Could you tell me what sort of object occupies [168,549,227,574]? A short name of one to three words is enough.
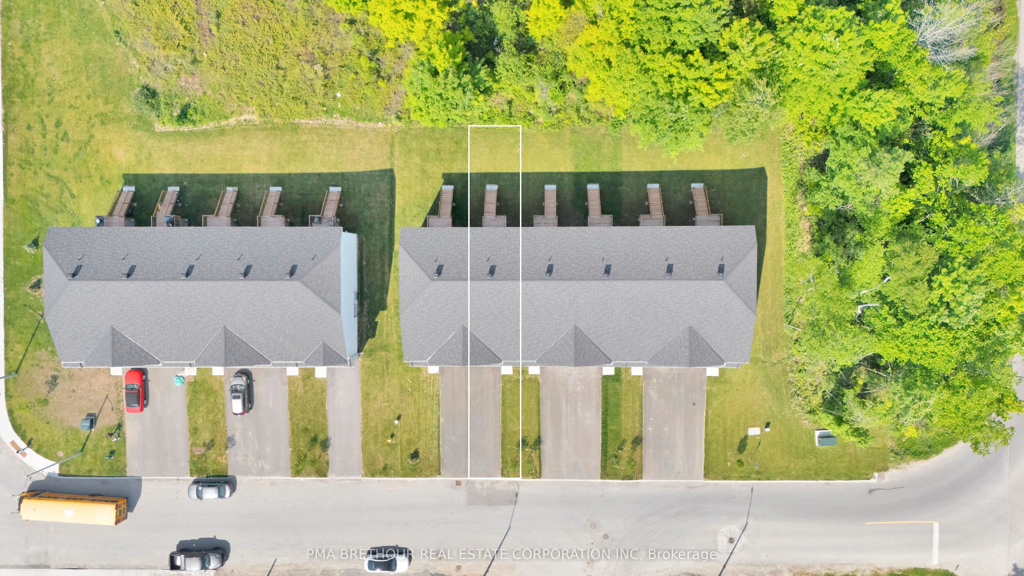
truck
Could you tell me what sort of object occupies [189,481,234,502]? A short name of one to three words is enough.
car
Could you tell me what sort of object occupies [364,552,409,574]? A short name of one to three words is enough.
car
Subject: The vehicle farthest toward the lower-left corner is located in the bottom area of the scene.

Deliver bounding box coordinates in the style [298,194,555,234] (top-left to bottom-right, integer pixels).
[16,489,129,525]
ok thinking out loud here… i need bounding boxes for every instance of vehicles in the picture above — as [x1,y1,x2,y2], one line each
[364,552,409,574]
[122,369,146,414]
[16,489,129,525]
[228,373,251,416]
[189,481,234,502]
[168,549,227,574]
